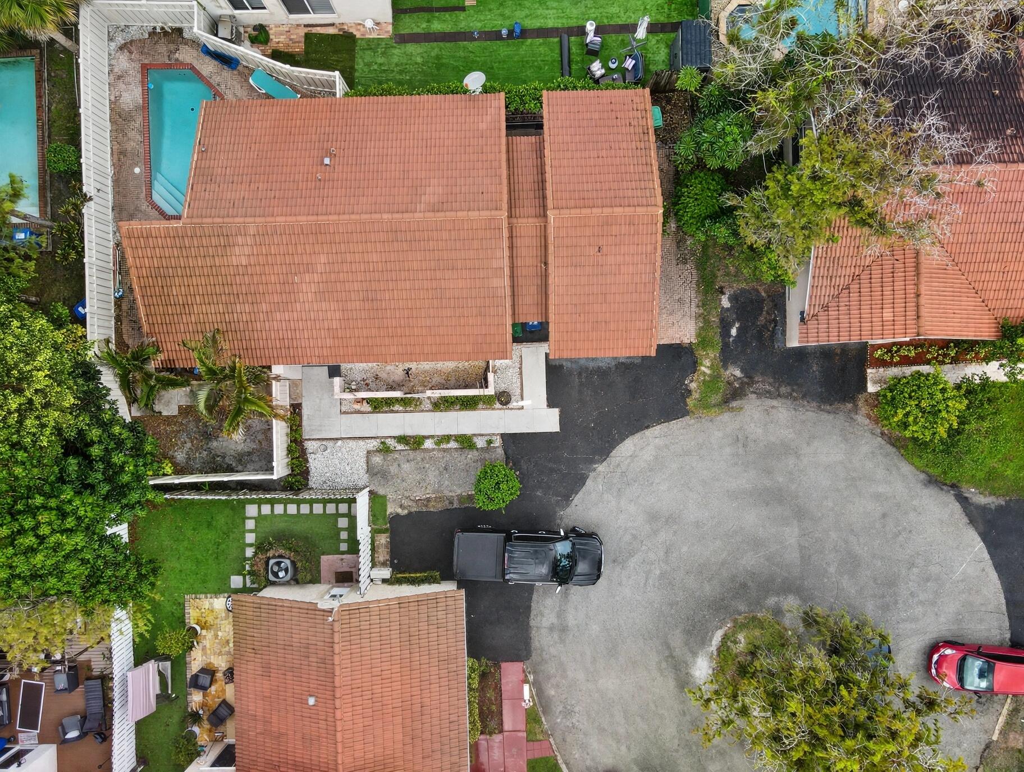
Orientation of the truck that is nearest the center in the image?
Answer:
from side to side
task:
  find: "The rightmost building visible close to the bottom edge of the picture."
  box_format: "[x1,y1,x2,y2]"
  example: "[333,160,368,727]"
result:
[175,581,466,772]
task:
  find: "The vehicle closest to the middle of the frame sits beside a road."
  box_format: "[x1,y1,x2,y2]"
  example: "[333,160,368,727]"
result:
[452,523,607,596]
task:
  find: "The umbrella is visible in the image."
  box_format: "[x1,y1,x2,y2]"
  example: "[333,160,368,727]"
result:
[622,16,648,50]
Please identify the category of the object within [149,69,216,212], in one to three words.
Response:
swimming pool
